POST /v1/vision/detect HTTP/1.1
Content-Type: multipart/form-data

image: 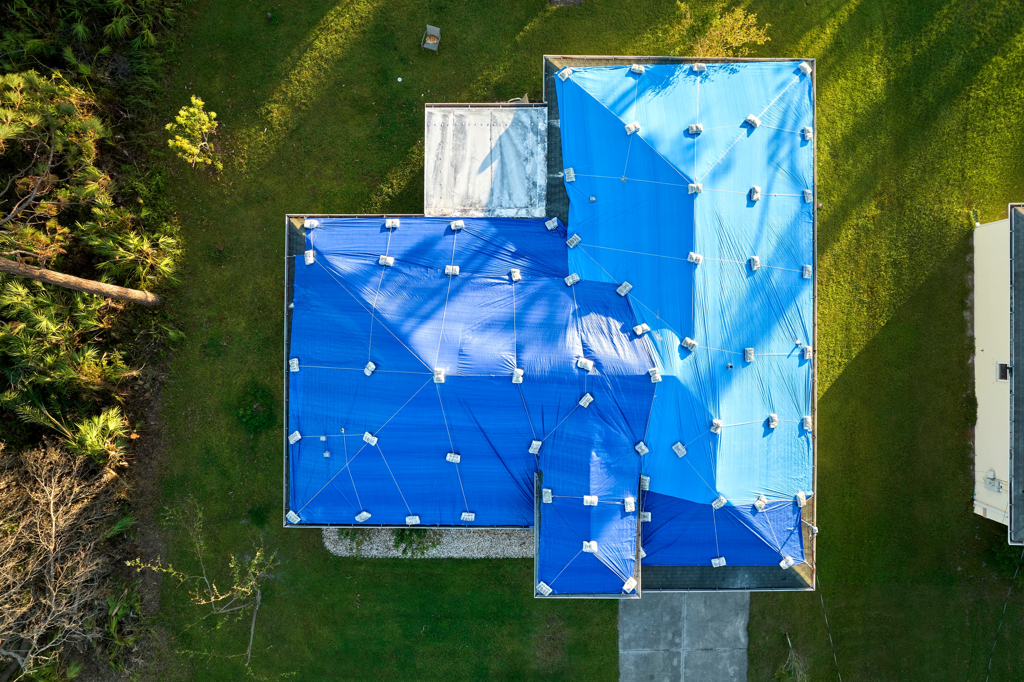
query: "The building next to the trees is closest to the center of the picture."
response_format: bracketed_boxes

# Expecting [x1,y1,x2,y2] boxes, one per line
[287,56,822,599]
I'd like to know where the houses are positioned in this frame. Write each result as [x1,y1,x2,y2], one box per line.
[968,202,1024,546]
[287,56,822,599]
